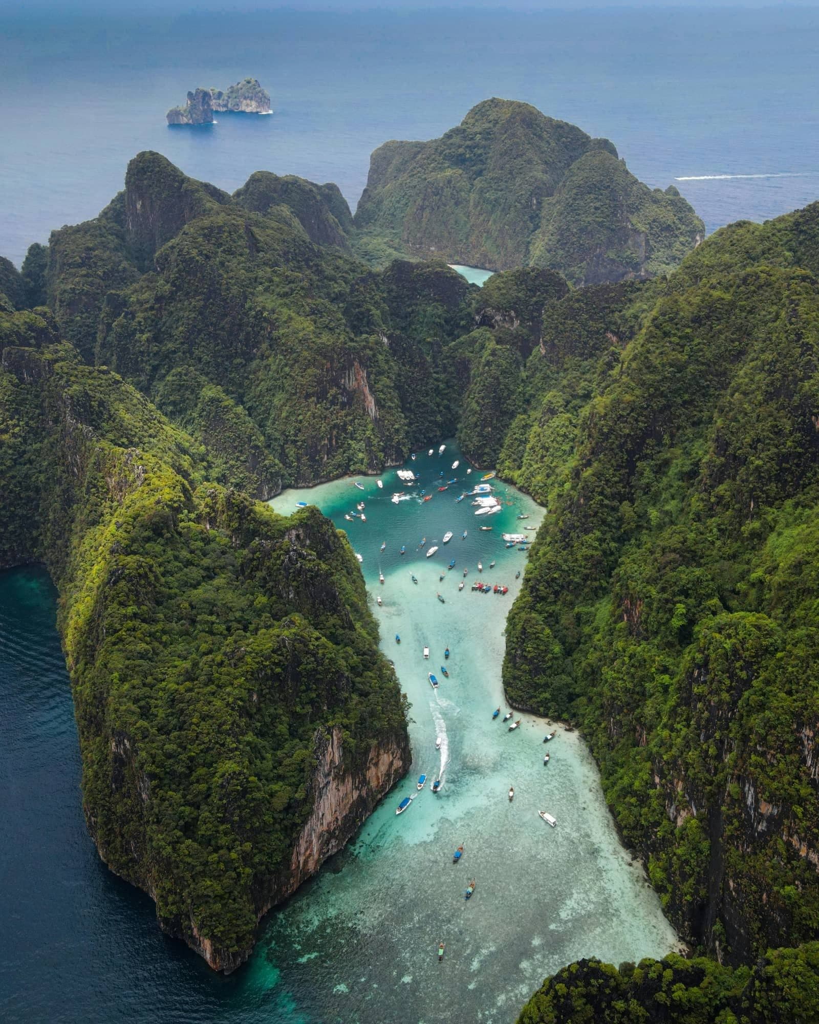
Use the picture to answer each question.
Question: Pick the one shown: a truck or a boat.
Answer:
boat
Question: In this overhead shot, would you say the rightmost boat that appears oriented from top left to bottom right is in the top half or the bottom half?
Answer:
bottom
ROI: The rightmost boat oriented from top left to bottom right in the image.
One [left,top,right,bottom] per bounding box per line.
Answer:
[538,809,560,830]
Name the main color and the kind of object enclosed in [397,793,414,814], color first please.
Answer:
blue boat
